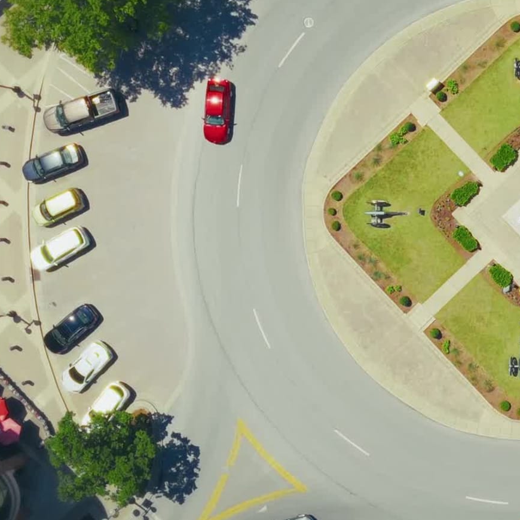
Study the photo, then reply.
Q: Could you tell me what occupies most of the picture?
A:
paved ground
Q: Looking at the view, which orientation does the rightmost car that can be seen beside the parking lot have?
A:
vertically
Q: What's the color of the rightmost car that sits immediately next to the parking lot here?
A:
red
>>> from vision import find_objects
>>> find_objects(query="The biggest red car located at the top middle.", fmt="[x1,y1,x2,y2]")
[200,79,234,145]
